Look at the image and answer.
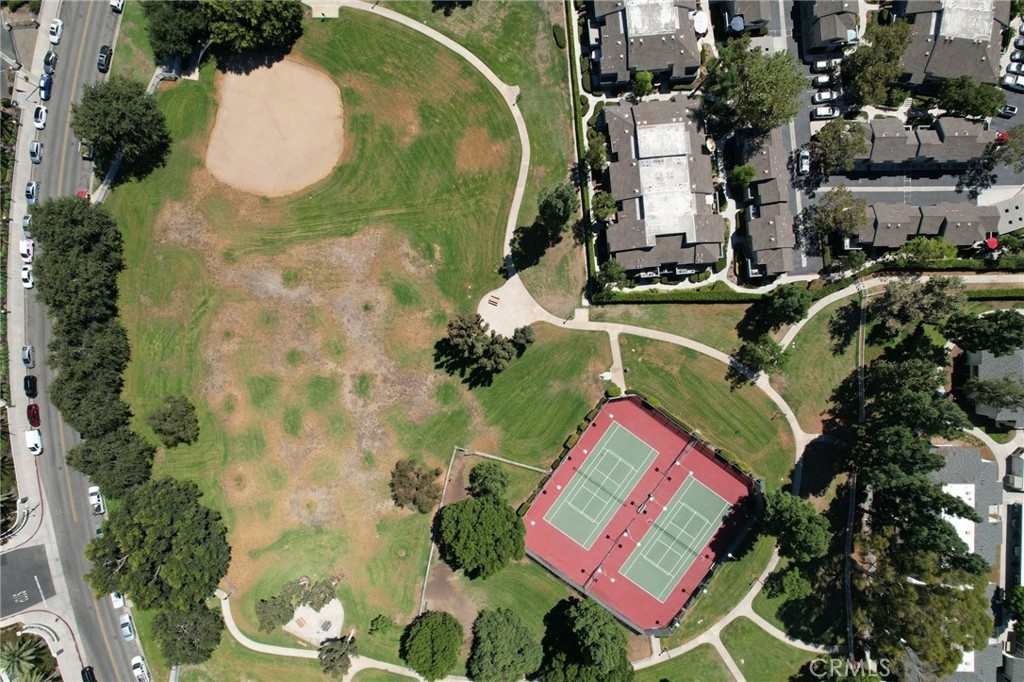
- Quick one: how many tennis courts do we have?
2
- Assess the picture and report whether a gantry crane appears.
No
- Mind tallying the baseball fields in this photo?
1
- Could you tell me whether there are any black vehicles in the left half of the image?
Yes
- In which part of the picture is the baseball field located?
top left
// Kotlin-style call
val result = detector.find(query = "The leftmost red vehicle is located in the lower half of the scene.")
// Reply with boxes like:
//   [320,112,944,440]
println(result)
[28,402,42,428]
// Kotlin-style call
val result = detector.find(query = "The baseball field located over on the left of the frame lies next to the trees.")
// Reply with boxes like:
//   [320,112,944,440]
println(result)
[205,57,345,199]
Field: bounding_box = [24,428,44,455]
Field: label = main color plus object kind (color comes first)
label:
white vehicle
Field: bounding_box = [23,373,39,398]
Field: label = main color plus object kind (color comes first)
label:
black car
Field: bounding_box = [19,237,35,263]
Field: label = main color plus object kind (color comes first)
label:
white car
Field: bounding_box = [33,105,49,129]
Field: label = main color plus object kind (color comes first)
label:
white car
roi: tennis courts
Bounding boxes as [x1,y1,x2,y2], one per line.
[585,438,751,628]
[524,394,692,587]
